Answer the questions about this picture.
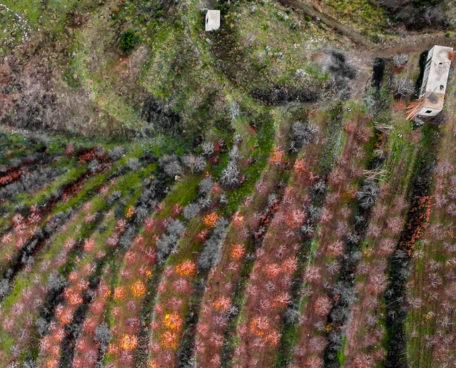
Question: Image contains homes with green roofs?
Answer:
No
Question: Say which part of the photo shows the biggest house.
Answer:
top right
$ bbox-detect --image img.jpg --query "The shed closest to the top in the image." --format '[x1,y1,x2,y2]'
[204,9,221,30]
